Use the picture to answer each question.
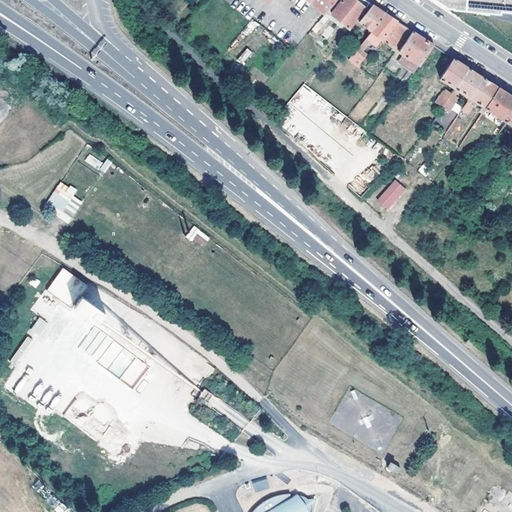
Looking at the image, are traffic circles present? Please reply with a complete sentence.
No, there's no traffic circle here.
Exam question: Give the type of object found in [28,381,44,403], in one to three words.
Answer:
vehicle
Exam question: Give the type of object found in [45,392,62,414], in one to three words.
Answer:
vehicle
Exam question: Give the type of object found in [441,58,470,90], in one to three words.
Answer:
house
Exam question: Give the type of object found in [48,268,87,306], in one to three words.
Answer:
building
